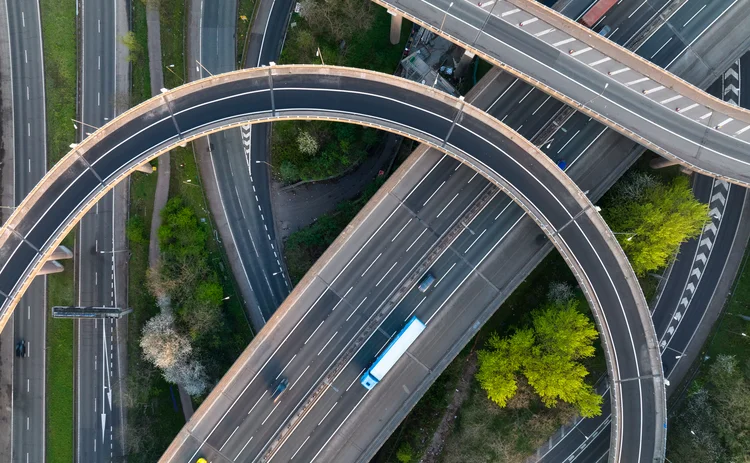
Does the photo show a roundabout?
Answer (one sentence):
No, the scene contains no roundabout.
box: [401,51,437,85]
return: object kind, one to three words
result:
building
